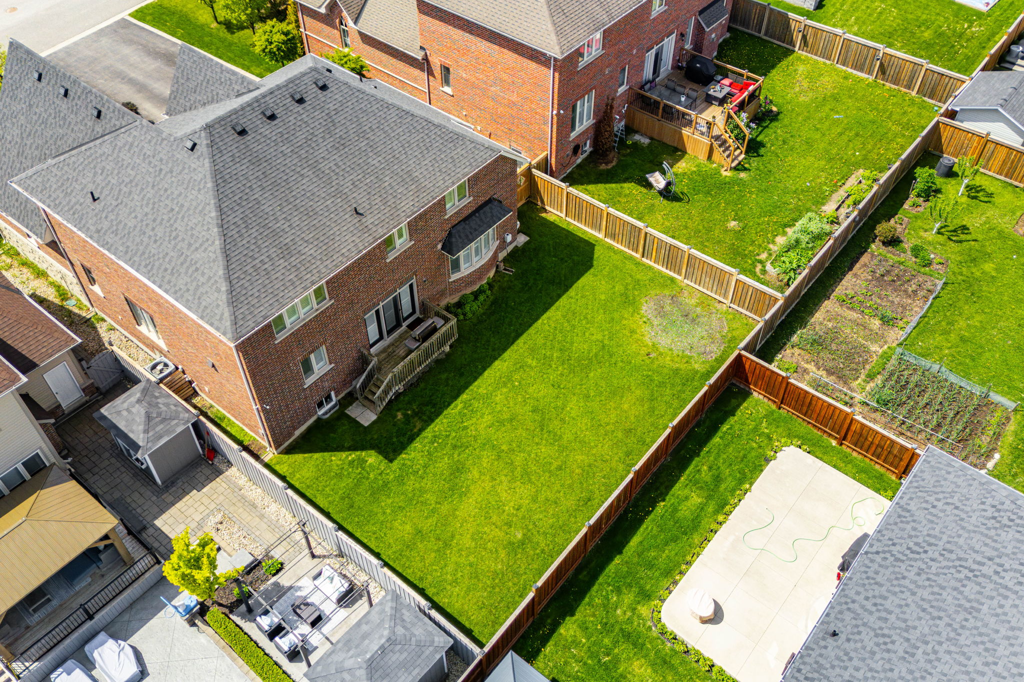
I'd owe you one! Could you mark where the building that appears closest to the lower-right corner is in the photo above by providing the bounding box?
[779,445,1024,682]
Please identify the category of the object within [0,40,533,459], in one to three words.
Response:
house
